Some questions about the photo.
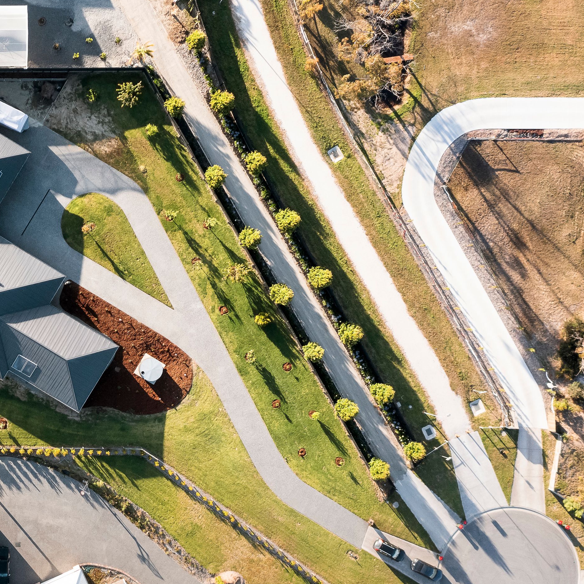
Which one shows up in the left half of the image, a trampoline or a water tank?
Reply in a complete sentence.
Looking in the left half of the image, you will find a water tank.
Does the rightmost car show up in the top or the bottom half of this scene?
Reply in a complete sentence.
The bottom half of the photo is where the rightmost car is.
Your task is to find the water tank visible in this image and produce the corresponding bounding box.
[134,353,165,385]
